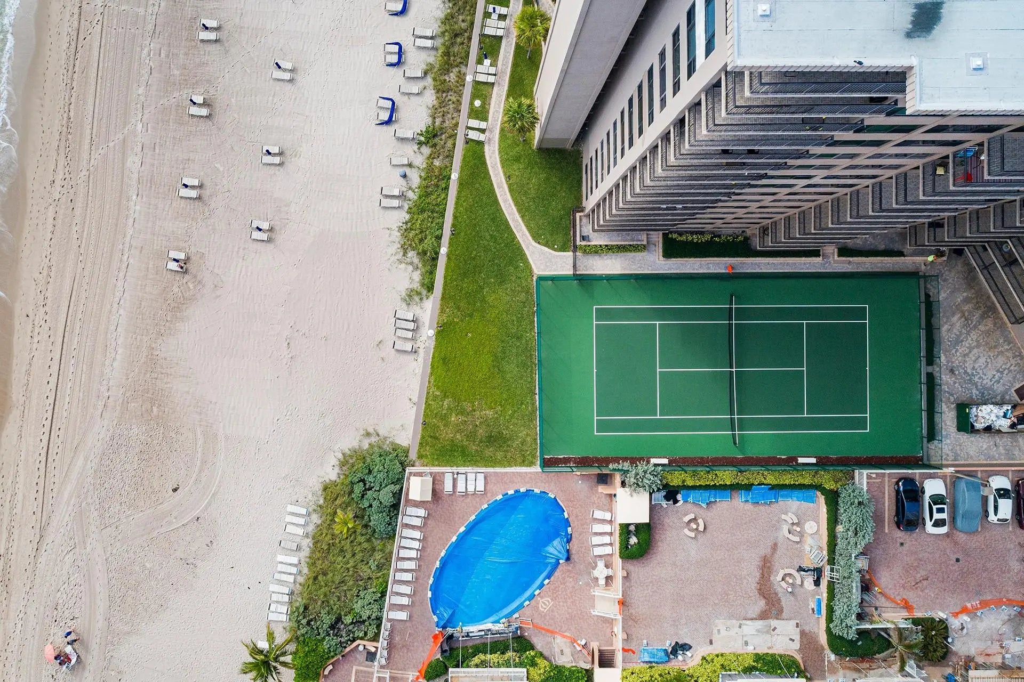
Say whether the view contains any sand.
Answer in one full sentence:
Yes, sand shows up in the scene.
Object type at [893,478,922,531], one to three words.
car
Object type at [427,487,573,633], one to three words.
swimming pool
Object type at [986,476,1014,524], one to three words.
car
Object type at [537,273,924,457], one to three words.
tennis court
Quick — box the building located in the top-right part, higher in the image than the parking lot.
[536,0,1024,326]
